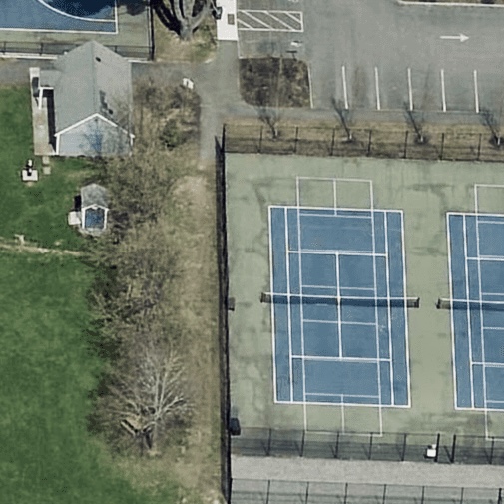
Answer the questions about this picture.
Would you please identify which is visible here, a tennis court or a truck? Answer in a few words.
tennis court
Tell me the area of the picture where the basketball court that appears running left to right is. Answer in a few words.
top left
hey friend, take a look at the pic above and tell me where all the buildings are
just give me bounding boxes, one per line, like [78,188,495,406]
[40,42,136,158]
[82,184,110,234]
